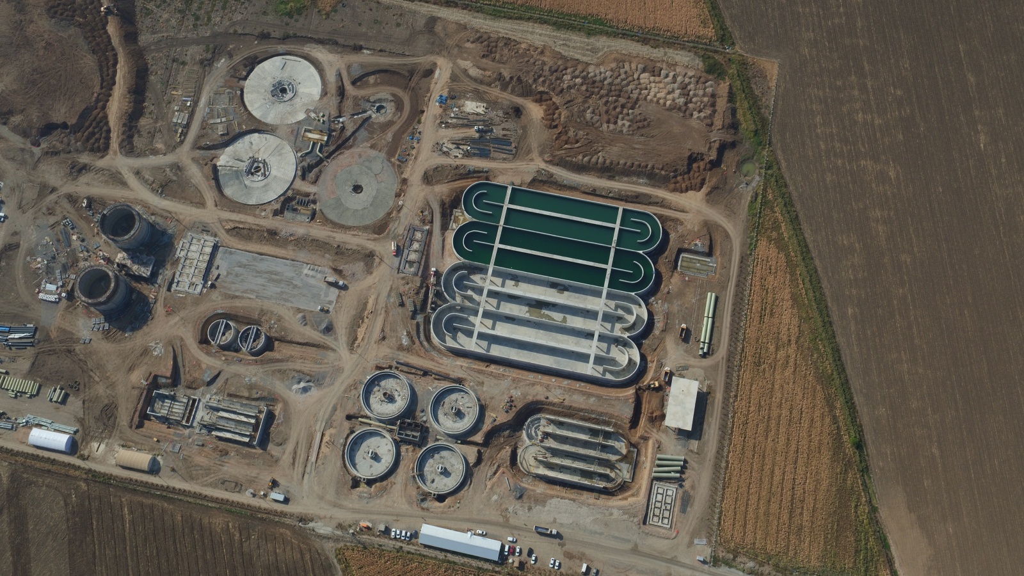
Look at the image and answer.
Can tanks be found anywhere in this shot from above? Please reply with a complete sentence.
Yes, there's a tank down there.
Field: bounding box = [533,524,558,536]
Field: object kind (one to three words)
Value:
vehicle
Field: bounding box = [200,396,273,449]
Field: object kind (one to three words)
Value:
building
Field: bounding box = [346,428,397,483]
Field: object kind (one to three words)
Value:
storage tank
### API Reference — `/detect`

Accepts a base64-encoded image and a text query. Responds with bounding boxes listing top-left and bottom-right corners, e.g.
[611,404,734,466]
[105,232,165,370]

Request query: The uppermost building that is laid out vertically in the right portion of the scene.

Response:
[662,376,699,441]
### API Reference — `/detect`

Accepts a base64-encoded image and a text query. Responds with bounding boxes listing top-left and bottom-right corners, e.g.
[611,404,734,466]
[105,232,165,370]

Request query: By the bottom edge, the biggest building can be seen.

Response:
[419,521,502,561]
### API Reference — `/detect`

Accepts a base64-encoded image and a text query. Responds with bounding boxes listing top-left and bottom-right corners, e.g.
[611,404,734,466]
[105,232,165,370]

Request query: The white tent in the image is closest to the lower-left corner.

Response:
[23,427,73,456]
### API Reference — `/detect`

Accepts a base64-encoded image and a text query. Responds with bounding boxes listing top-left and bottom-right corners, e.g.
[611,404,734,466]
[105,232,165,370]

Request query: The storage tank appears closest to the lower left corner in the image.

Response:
[146,390,202,426]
